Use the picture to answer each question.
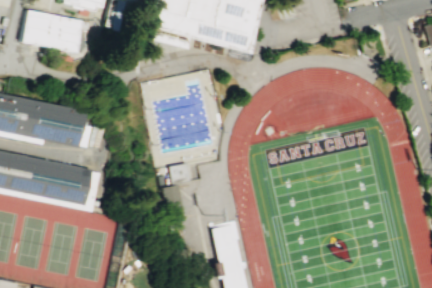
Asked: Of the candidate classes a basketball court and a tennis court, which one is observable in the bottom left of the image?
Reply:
tennis court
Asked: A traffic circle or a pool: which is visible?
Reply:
pool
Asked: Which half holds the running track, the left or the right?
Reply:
right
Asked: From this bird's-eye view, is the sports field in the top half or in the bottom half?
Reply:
bottom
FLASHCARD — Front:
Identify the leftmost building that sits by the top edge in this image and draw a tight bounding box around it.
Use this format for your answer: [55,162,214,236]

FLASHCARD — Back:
[20,10,84,53]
